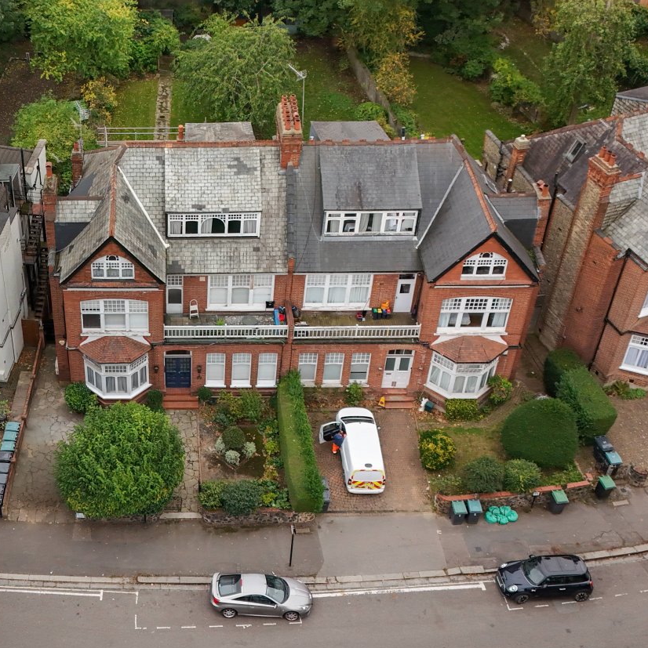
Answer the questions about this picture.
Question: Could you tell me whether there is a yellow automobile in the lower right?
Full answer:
No, there's no yellow automobile to be seen in the lower right.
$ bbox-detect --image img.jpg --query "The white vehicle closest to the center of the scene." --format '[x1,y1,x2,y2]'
[322,410,387,492]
